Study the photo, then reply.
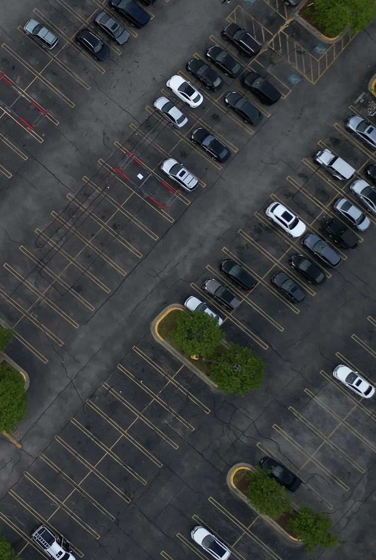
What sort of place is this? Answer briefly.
parking lot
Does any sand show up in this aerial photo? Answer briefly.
No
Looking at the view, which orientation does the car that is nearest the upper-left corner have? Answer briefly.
on a diagonal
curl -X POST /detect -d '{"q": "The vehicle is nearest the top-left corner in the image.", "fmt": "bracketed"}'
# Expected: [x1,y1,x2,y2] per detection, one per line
[22,18,61,51]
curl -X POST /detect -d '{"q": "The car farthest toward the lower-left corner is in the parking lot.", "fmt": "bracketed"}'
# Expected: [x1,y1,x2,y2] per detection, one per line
[32,527,75,560]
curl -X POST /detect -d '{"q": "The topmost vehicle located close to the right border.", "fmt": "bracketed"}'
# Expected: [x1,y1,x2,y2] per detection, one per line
[345,117,376,150]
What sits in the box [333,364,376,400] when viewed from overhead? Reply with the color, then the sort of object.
white car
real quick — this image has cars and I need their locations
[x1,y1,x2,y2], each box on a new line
[151,96,191,130]
[266,203,305,238]
[110,0,151,28]
[165,75,206,109]
[267,270,308,305]
[314,147,358,182]
[32,527,75,560]
[93,9,131,45]
[288,252,330,288]
[300,234,343,269]
[159,158,200,192]
[260,456,301,494]
[75,26,114,62]
[350,182,376,214]
[190,526,231,560]
[219,257,259,293]
[223,92,265,127]
[22,18,61,51]
[182,293,224,319]
[332,195,371,231]
[364,162,376,182]
[221,23,262,58]
[185,58,225,93]
[345,117,376,150]
[239,69,285,107]
[204,45,246,79]
[191,128,232,163]
[333,364,376,400]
